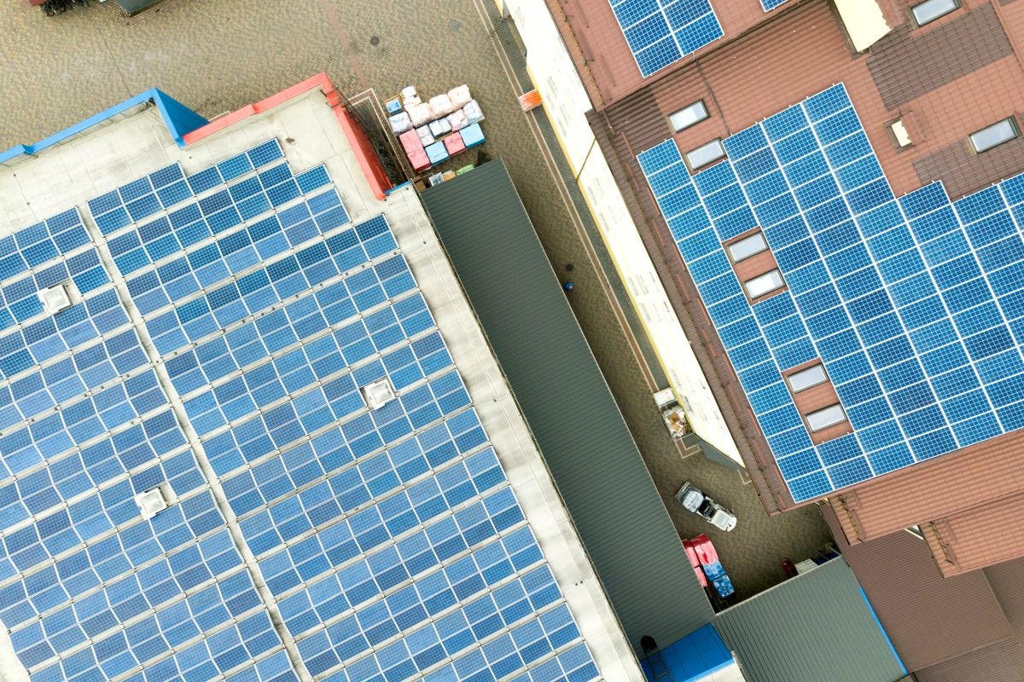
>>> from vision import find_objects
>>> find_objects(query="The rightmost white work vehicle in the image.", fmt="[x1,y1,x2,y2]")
[697,496,739,532]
